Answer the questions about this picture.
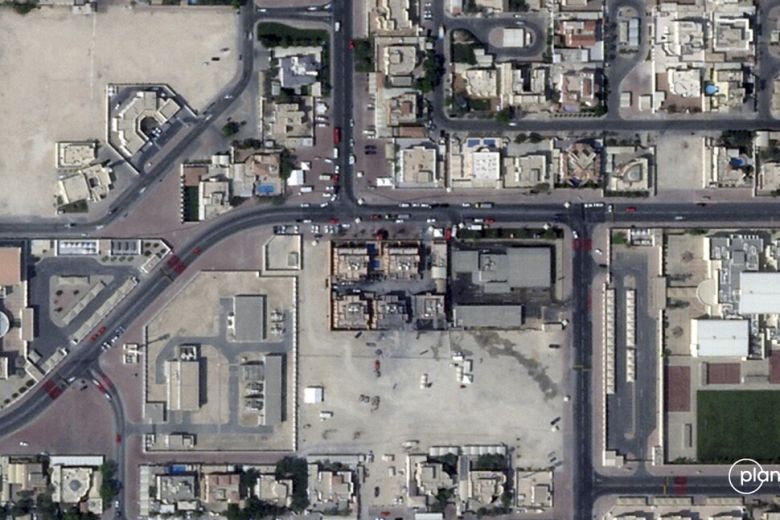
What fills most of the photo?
paved ground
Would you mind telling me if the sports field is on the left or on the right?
right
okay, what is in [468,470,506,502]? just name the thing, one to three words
house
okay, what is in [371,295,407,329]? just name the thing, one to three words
building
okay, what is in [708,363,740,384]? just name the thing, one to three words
sports court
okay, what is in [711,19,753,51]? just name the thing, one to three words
house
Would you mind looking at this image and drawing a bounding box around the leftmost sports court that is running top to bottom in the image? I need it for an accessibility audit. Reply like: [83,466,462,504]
[668,366,690,411]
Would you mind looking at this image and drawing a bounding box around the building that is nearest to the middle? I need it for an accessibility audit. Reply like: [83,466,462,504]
[382,247,419,278]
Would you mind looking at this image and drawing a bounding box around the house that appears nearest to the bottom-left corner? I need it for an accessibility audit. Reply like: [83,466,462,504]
[1,455,46,502]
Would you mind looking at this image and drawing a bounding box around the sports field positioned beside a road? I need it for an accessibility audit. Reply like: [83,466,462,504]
[697,391,780,462]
